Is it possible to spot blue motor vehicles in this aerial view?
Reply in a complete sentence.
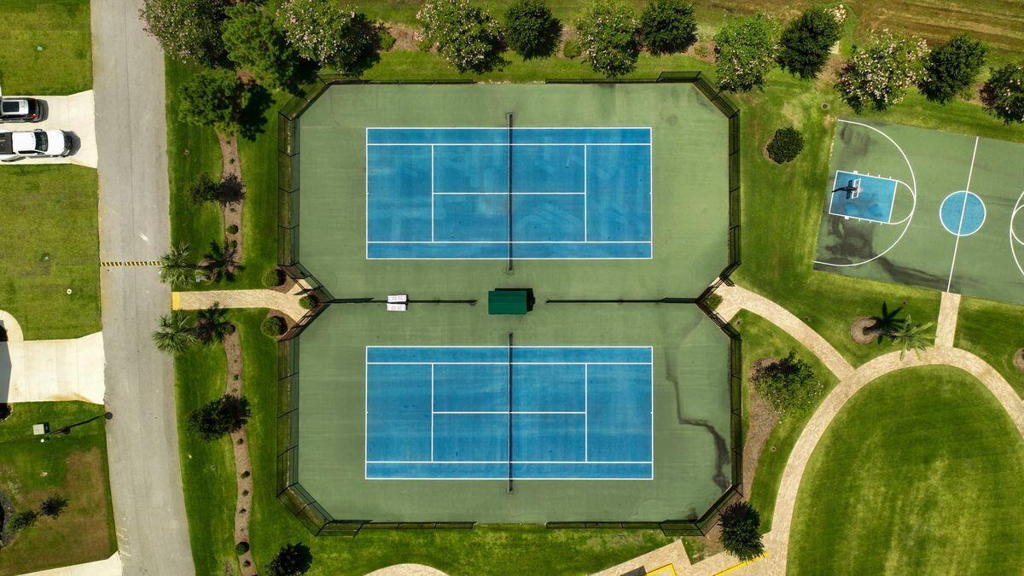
No, there isn't any blue motor vehicle down there.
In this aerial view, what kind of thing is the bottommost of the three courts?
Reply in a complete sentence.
The bottommost of the three courts can be classified as a tennis court.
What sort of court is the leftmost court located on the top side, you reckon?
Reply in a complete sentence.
Looking closely, the leftmost court located on the top side is a tennis court.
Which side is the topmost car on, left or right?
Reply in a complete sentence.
You can find the topmost car on the left side of the picture.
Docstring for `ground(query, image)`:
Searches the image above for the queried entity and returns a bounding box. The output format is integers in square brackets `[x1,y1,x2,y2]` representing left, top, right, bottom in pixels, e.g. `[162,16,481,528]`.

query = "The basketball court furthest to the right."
[814,120,1024,305]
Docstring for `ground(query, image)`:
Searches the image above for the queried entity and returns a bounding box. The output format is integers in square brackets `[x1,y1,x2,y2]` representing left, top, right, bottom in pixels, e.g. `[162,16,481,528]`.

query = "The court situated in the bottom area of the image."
[288,301,732,523]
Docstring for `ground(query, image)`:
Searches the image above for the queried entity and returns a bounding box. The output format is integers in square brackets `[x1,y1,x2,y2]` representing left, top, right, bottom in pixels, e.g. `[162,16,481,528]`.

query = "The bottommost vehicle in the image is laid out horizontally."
[0,130,77,159]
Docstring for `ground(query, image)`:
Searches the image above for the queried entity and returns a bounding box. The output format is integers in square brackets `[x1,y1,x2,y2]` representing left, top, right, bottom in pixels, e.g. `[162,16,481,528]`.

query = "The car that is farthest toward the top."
[0,96,45,124]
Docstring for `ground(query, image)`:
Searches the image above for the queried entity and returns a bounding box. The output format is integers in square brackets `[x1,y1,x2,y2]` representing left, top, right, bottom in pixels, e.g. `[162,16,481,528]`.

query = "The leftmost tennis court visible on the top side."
[290,83,729,301]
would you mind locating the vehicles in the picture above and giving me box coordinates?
[0,130,77,159]
[0,96,45,124]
